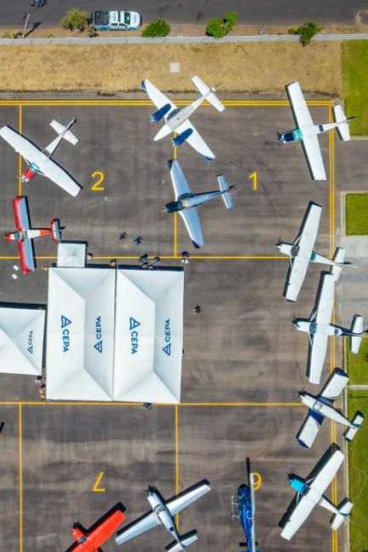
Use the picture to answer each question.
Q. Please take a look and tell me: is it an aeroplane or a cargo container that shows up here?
aeroplane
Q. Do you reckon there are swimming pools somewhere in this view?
No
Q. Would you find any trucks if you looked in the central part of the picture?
No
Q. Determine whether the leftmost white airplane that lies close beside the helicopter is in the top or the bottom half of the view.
bottom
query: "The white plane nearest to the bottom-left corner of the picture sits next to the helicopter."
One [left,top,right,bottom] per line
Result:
[116,485,211,552]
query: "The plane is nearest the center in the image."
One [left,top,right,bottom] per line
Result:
[162,162,234,246]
